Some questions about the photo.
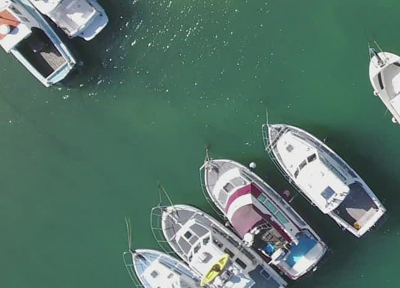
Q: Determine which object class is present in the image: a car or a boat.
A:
boat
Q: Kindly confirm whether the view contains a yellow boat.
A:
Yes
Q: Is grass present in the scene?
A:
No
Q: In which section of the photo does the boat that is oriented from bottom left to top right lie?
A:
bottom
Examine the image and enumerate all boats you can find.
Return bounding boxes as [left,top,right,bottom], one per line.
[0,0,79,87]
[155,203,285,288]
[200,254,229,287]
[26,0,110,42]
[262,122,386,237]
[123,247,207,288]
[371,48,400,121]
[199,158,327,280]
